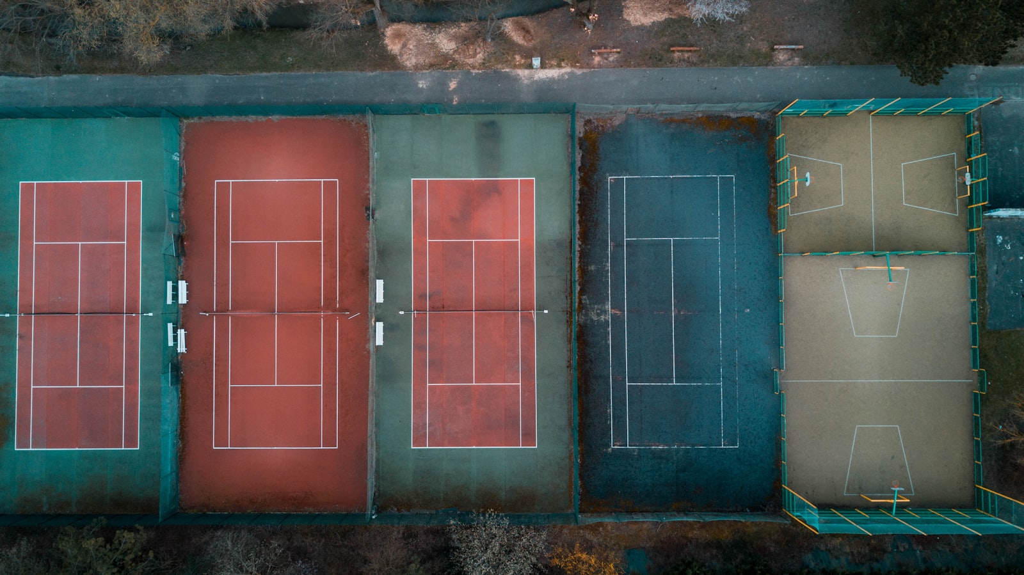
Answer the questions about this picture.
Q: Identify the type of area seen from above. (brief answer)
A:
sports ground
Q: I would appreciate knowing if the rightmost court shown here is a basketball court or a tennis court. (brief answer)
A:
tennis court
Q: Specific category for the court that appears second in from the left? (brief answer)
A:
tennis court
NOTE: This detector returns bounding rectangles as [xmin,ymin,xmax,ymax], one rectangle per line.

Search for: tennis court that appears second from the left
[179,115,373,514]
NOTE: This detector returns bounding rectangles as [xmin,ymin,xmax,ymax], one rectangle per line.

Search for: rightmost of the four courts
[578,111,783,513]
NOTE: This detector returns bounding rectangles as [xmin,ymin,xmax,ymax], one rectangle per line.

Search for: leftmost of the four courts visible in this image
[0,117,179,514]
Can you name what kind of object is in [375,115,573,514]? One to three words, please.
tennis court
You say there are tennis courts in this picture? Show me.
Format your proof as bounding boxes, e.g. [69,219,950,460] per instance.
[0,117,179,514]
[375,115,573,514]
[578,111,783,513]
[179,115,373,514]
